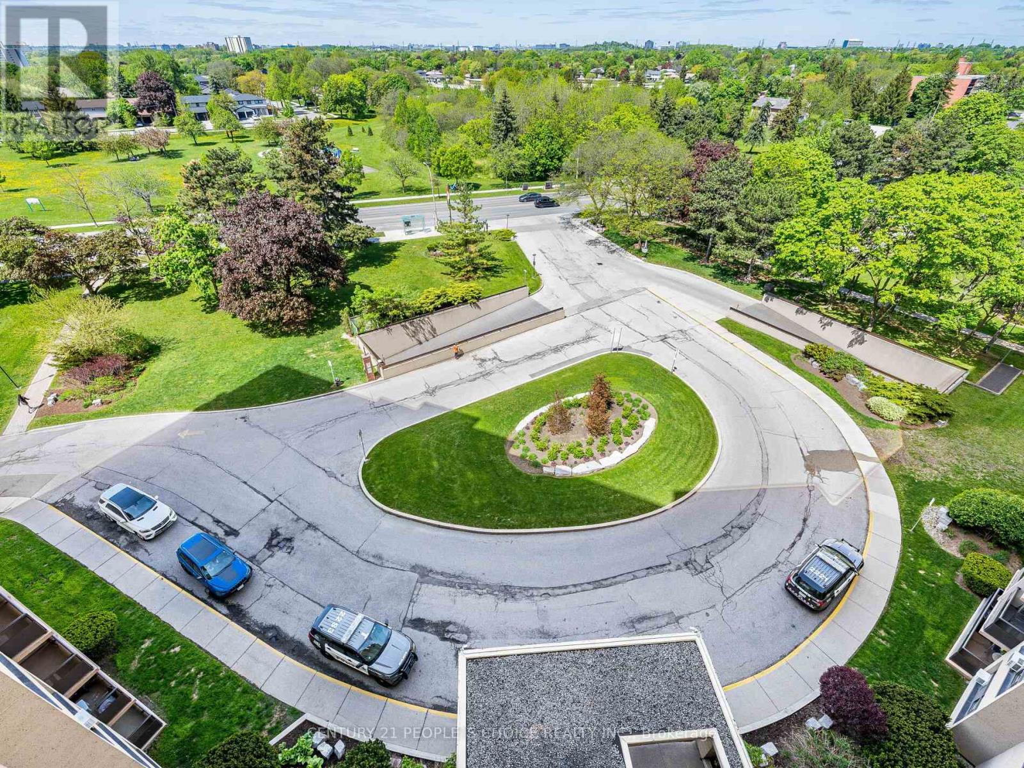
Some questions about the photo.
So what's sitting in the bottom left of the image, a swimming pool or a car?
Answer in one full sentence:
You can see a car in the bottom left of the image.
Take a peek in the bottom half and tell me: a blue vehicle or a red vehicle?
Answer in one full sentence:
It is a blue vehicle that can be seen in the bottom half.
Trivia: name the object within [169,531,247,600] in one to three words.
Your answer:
car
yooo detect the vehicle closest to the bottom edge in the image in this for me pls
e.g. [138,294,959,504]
[311,608,422,691]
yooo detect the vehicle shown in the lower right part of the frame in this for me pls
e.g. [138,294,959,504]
[788,533,870,608]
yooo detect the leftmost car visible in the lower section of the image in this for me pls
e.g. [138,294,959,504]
[94,483,173,539]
